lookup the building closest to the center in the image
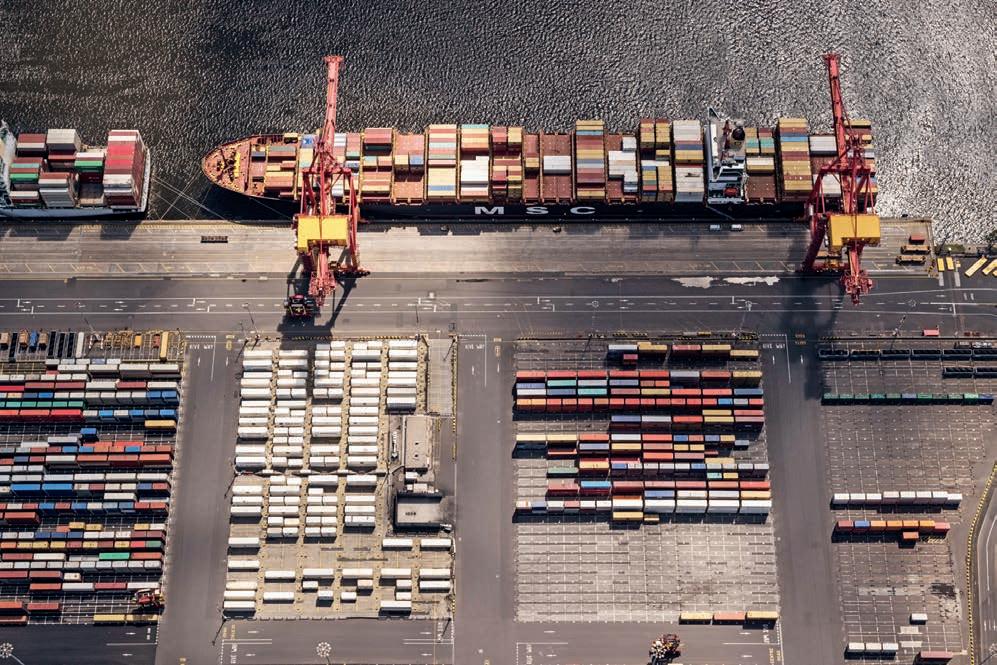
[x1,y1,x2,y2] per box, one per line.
[404,417,430,471]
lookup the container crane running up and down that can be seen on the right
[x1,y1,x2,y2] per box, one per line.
[793,55,880,312]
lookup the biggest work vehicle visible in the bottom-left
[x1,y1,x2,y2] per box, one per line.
[133,590,166,611]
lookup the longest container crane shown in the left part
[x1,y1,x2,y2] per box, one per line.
[292,55,372,312]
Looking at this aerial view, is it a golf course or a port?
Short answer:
port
